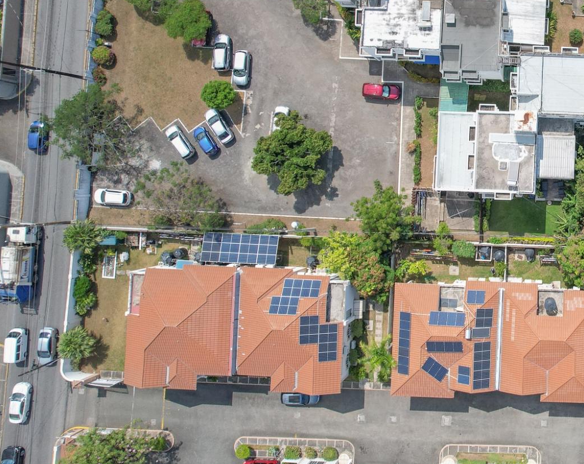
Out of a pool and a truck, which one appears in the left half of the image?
truck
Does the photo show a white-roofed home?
Yes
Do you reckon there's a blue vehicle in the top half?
Yes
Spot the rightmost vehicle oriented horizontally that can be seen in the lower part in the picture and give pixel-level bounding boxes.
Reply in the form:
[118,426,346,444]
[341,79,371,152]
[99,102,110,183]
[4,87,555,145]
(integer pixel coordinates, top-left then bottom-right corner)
[282,390,321,410]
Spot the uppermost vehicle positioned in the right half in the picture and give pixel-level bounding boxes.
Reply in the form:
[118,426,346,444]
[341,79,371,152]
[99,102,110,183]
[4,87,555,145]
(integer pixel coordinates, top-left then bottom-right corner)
[363,82,402,101]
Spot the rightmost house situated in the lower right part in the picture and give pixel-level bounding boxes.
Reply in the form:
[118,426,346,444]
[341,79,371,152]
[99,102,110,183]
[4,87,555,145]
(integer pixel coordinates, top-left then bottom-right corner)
[496,277,584,403]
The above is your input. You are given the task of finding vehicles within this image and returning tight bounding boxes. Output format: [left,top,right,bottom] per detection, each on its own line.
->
[273,105,289,120]
[243,457,282,464]
[363,82,402,101]
[10,381,34,423]
[213,36,233,70]
[2,442,25,464]
[96,190,131,207]
[193,125,222,158]
[2,325,29,367]
[1,229,41,312]
[204,109,236,146]
[232,52,251,85]
[28,120,50,154]
[282,390,321,410]
[164,123,197,161]
[36,326,60,366]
